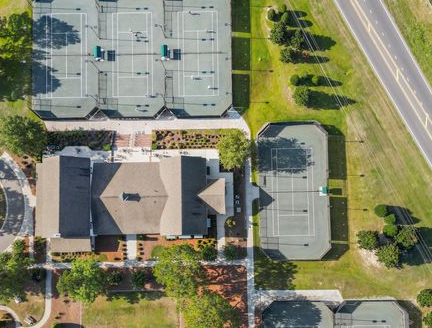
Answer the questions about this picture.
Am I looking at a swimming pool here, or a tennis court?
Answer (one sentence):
There is a tennis court in the scene.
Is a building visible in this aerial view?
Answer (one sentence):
Yes, there's a building down there.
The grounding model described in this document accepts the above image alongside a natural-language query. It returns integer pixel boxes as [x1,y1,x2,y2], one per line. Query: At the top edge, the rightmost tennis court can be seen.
[165,0,231,116]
